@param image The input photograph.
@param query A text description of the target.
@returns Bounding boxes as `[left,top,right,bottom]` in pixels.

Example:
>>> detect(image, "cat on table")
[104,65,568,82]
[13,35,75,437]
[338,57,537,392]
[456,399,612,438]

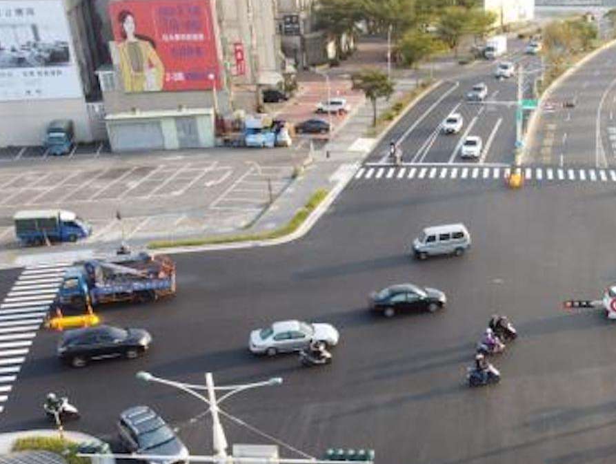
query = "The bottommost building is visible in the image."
[100,101,218,152]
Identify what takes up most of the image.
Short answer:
paved ground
